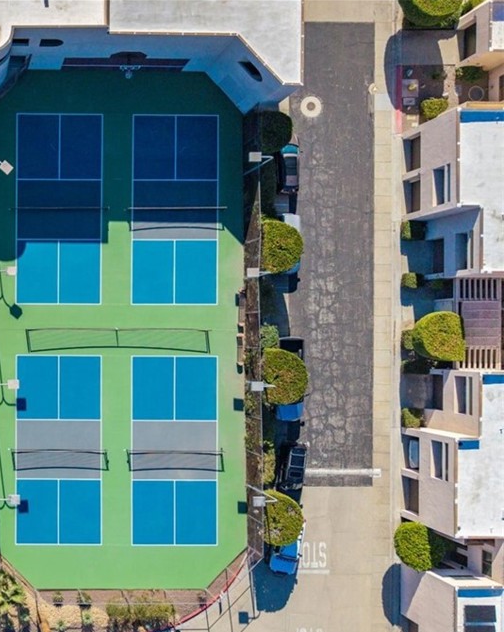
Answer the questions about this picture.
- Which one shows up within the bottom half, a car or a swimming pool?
car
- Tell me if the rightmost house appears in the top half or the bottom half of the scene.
top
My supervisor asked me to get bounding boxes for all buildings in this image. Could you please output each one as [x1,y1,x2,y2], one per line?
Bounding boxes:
[402,370,504,537]
[457,4,504,102]
[402,540,504,632]
[402,111,504,280]
[0,0,303,115]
